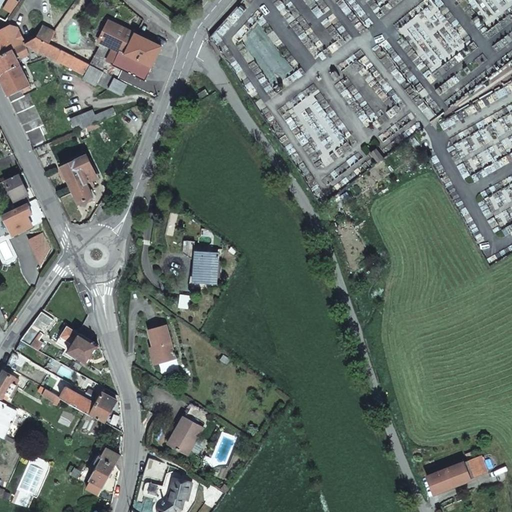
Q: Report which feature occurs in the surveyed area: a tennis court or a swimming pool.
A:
swimming pool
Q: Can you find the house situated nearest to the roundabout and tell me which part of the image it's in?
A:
left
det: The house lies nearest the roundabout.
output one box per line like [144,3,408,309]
[28,232,56,267]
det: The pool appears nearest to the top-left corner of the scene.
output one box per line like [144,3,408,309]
[66,20,82,46]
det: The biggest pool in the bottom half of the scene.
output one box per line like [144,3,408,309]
[204,434,238,468]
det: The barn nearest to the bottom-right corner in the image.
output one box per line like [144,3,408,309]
[426,456,489,496]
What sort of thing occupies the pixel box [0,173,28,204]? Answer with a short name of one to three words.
house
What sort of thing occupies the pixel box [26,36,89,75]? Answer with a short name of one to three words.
shed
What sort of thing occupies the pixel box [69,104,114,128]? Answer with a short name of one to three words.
shed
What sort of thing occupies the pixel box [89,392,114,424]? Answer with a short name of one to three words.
house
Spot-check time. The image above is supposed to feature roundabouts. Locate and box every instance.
[54,213,129,294]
